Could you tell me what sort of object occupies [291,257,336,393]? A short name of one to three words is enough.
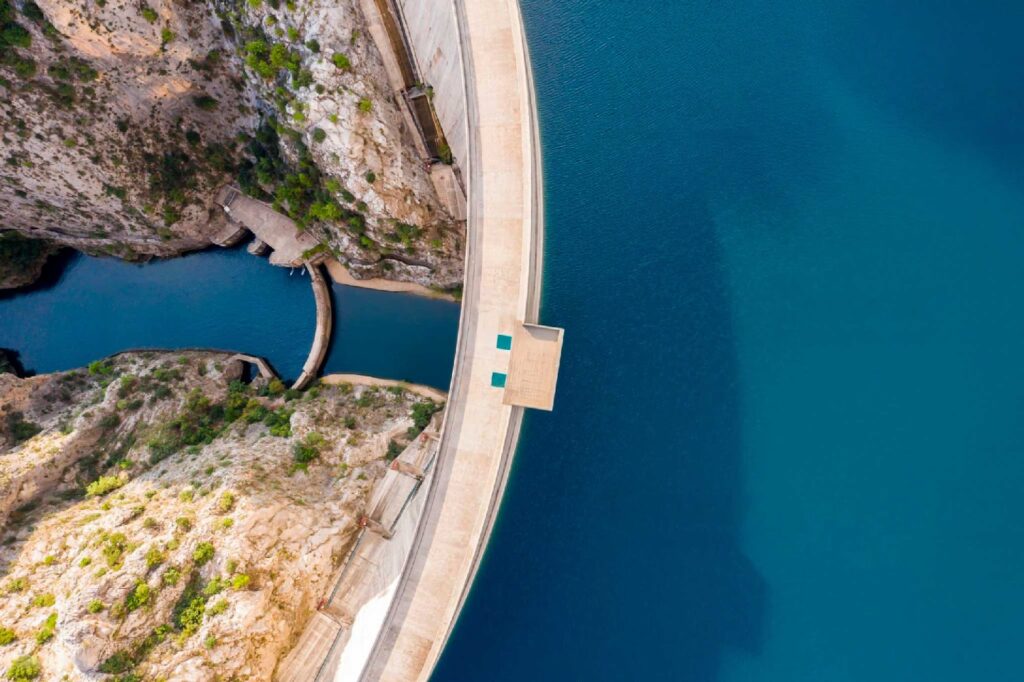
dam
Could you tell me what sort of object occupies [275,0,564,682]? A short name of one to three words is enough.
dam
